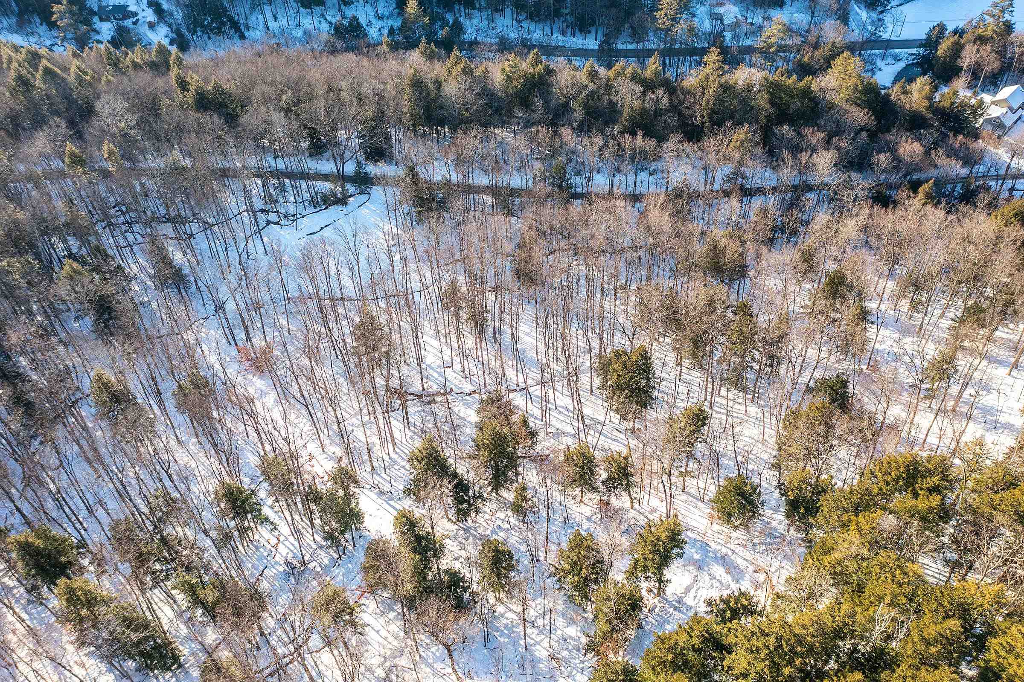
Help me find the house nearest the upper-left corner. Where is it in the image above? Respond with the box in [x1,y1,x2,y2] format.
[96,5,139,21]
